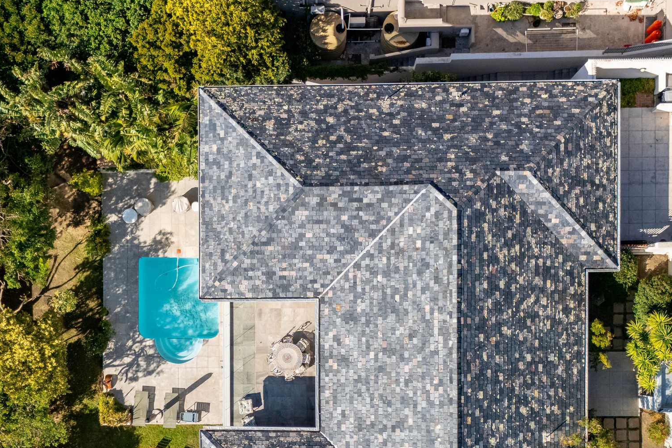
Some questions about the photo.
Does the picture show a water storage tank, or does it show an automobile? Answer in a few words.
water storage tank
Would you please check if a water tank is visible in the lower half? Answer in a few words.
No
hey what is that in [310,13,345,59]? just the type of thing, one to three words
water tank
